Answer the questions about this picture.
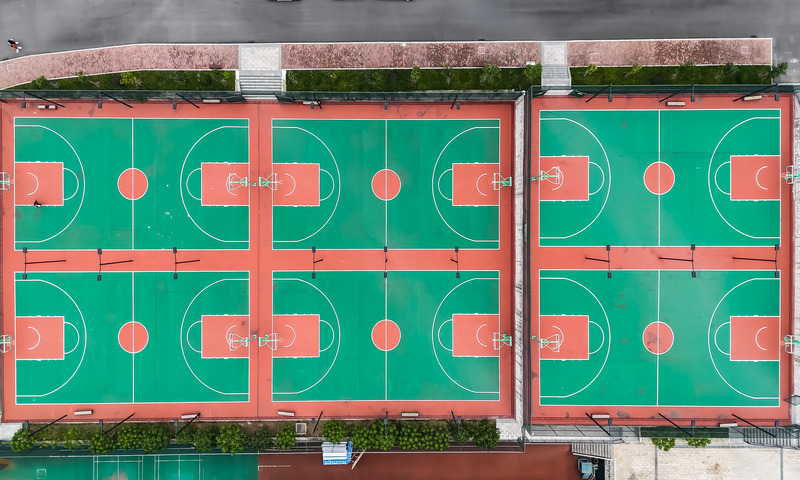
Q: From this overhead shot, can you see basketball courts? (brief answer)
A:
Yes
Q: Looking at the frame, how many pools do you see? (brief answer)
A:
0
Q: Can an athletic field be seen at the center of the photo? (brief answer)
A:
No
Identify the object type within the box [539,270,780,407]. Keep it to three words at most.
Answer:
basketball court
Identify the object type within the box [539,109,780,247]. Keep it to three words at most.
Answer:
basketball court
